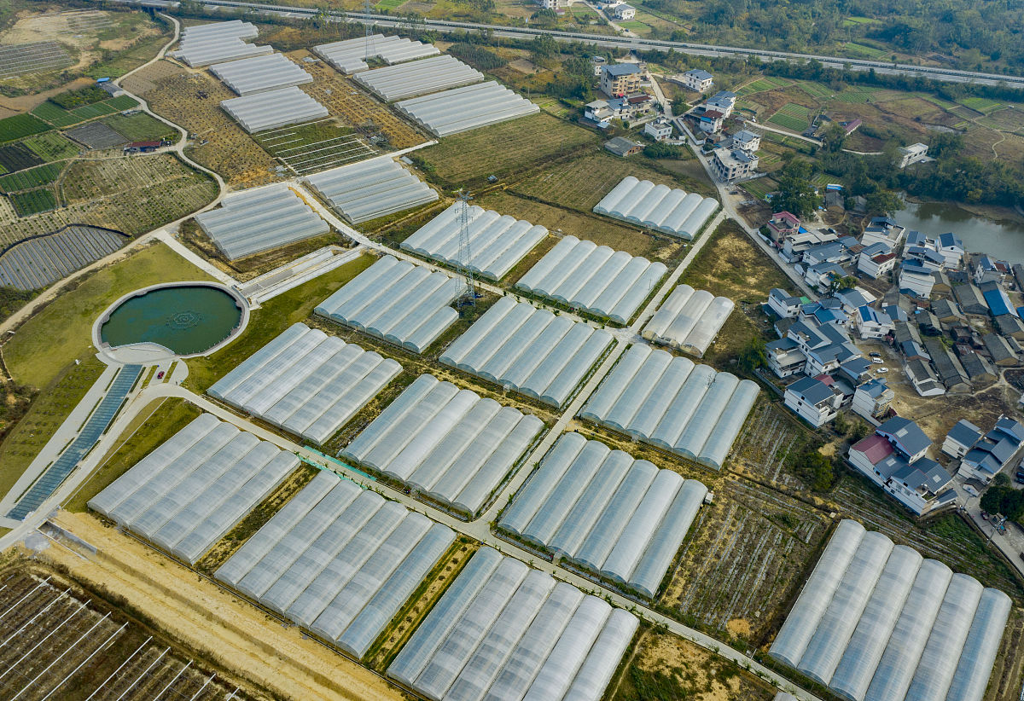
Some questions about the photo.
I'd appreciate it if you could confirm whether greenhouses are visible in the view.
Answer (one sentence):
Yes, a greenhouse appears in the view.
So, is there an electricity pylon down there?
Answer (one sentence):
Yes, there's an electricity pylon down there.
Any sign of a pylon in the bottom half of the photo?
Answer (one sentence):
No, looking in the bottom half of the photo, there is no pylon.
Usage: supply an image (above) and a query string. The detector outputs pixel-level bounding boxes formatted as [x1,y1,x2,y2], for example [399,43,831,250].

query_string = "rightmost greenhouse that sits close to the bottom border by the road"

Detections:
[768,518,1013,701]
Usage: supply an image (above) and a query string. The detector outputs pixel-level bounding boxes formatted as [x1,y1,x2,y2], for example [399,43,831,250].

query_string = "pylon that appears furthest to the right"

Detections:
[445,183,479,300]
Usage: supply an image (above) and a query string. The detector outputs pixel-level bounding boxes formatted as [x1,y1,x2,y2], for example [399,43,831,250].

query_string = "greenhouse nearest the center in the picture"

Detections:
[437,295,615,408]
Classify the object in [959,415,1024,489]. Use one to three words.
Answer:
house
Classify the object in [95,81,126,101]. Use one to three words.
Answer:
shed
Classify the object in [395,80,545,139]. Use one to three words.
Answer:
greenhouse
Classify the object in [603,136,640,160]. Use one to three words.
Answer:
barn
